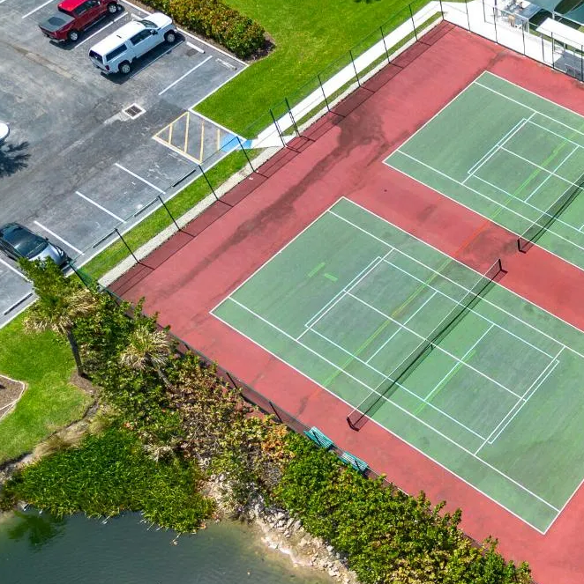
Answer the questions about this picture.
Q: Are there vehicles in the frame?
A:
Yes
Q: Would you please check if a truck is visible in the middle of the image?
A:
No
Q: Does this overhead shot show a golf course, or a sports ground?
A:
sports ground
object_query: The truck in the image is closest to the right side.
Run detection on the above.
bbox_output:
[87,16,174,78]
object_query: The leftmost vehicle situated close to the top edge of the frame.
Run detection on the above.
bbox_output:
[34,0,118,45]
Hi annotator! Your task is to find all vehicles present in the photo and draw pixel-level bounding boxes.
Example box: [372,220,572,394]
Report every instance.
[34,0,118,45]
[87,16,174,78]
[0,221,67,275]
